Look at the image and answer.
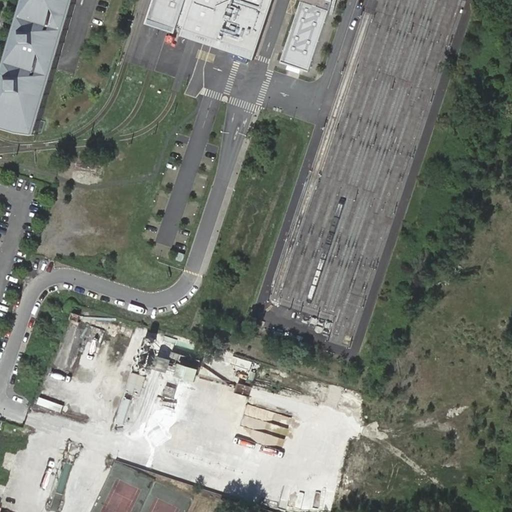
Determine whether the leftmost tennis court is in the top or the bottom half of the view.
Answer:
bottom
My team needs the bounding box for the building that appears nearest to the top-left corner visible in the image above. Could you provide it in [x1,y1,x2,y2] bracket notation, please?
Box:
[0,0,70,135]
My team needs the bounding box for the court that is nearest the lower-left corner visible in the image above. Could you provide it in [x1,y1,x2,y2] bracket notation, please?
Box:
[90,461,156,512]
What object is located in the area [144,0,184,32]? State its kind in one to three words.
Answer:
shed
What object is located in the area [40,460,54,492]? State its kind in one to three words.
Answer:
vehicle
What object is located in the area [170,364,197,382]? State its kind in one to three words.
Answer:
shed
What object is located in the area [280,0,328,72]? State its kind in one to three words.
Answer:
building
